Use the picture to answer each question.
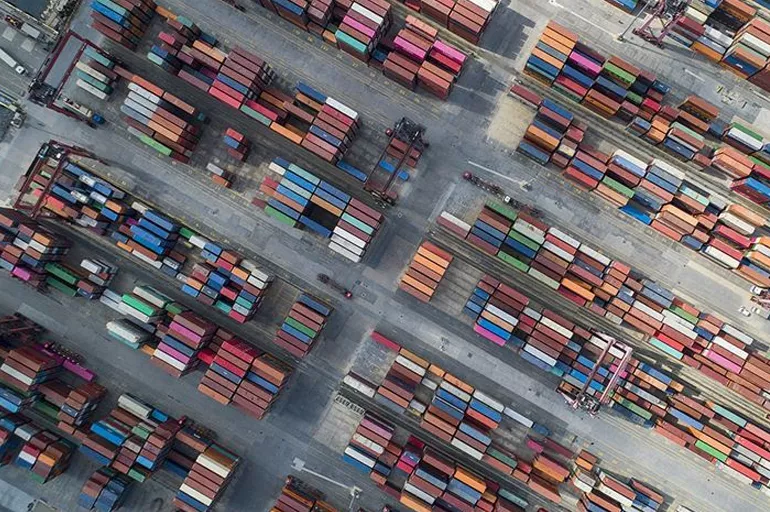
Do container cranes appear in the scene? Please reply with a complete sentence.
Yes, there is a container crane in the image.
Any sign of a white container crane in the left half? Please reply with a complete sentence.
No, I can find no white container crane in the left half.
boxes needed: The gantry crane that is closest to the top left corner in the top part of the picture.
[29,26,126,126]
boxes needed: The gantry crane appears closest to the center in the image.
[357,113,427,208]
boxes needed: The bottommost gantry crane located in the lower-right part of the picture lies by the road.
[554,328,642,423]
